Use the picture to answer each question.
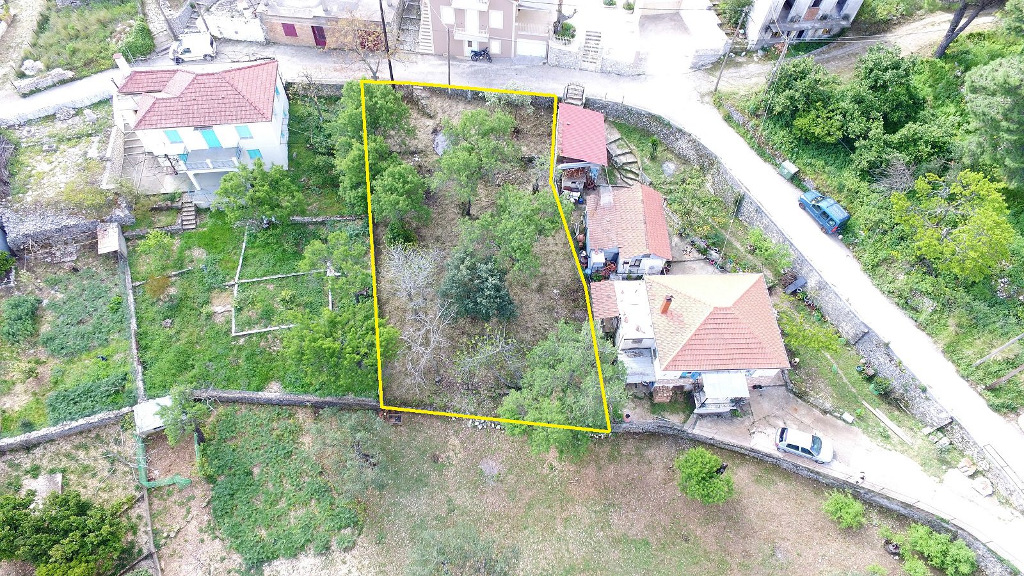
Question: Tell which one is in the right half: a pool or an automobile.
automobile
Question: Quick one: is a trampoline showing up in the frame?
No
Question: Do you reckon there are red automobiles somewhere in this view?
No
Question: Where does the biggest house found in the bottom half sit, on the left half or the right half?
right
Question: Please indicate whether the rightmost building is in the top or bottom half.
top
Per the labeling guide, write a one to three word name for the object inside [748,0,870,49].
building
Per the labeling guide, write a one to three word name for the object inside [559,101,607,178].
shed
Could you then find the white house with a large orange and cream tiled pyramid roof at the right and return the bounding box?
[590,272,791,431]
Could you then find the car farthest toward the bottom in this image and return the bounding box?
[776,426,837,463]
